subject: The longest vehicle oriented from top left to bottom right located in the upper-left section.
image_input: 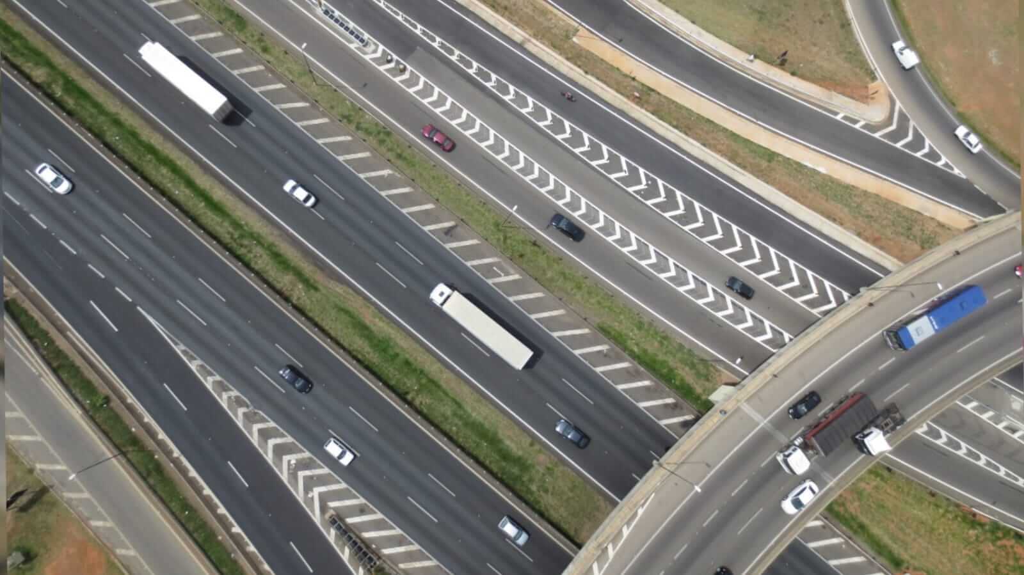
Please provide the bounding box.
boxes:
[140,42,239,125]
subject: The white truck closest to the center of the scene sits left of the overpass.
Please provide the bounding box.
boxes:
[427,282,533,371]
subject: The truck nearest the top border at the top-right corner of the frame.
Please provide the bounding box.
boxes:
[890,38,921,71]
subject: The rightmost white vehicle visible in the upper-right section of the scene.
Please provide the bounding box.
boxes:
[953,124,983,153]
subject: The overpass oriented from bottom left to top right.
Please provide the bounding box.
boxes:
[564,213,1024,575]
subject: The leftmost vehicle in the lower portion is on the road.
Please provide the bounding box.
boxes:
[279,364,313,394]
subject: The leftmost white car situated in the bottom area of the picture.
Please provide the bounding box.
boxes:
[323,438,355,467]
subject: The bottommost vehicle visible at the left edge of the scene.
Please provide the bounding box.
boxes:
[35,162,74,195]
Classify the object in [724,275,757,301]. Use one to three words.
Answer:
car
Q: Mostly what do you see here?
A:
paved ground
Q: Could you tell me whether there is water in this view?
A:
No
